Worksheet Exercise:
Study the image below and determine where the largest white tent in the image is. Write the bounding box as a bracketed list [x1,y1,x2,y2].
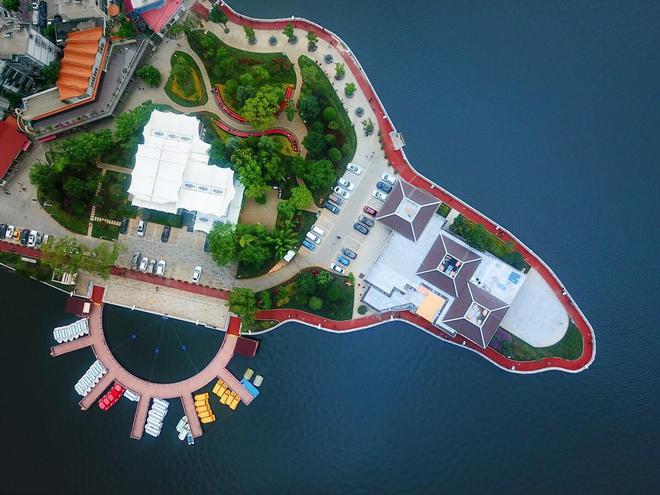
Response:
[128,109,238,234]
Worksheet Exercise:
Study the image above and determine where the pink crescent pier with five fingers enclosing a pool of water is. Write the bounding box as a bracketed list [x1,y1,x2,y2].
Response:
[50,301,254,439]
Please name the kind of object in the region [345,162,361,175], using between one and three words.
vehicle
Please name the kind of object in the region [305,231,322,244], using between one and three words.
vehicle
